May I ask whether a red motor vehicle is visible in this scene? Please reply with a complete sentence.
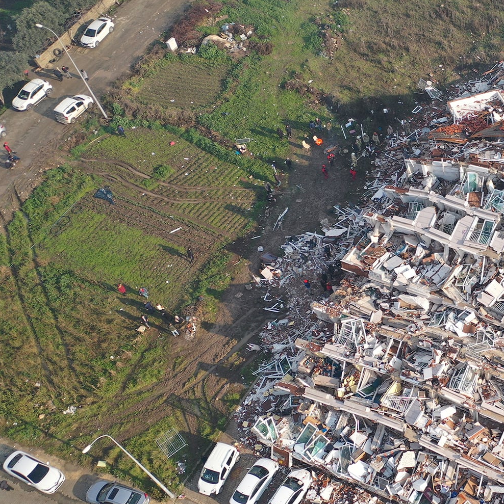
No, I find no red motor vehicle anywhere in the image.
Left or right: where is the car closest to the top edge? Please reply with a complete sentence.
The car closest to the top edge sits on the left side.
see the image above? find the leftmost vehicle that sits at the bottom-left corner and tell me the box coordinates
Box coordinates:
[5,454,64,496]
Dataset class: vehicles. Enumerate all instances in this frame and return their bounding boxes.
[77,19,115,50]
[5,454,64,496]
[271,471,313,504]
[229,460,279,504]
[196,442,242,503]
[10,80,56,113]
[88,483,151,504]
[54,98,97,127]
